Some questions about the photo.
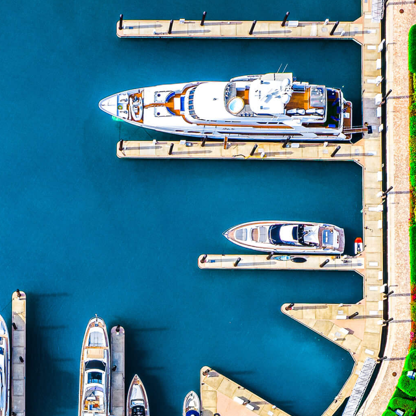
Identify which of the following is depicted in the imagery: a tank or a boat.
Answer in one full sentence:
Looking from above, you can make out a boat.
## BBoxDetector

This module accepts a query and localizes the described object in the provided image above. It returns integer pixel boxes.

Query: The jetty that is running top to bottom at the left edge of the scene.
[11,290,26,416]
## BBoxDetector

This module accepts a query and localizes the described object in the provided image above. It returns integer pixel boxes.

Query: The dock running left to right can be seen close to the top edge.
[116,16,361,49]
